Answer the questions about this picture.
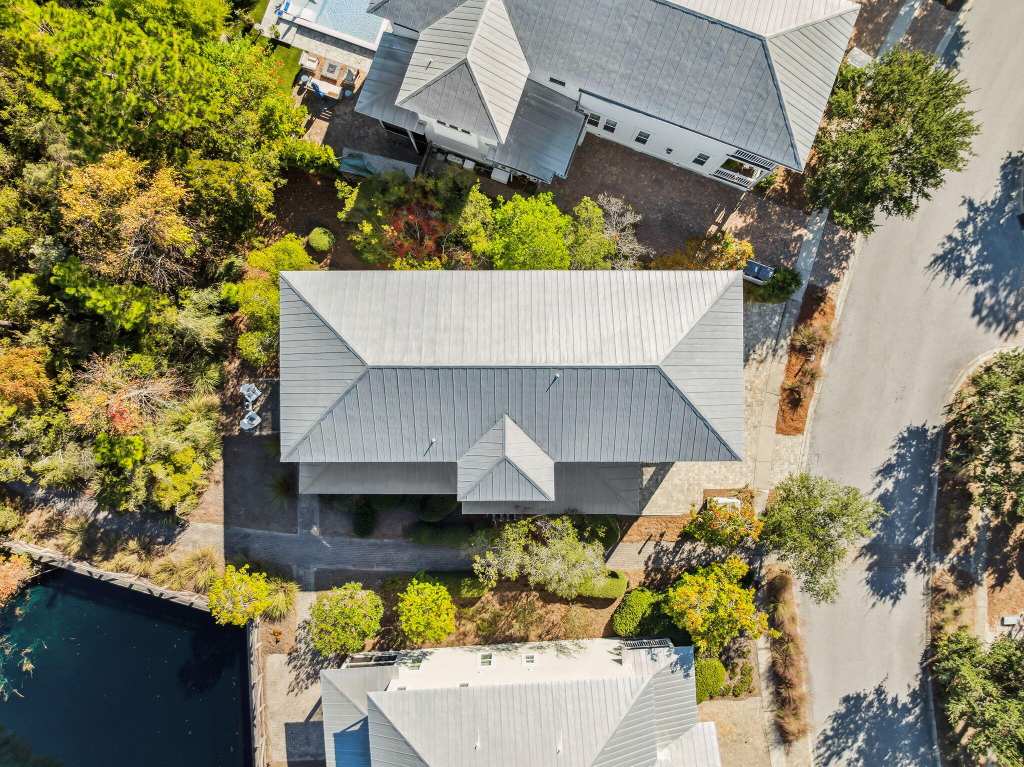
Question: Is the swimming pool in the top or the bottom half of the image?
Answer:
top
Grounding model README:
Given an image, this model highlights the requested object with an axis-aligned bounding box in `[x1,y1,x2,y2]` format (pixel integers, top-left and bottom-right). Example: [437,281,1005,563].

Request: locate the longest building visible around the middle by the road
[279,268,745,515]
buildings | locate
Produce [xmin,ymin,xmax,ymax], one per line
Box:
[353,0,866,191]
[279,268,745,515]
[319,637,720,767]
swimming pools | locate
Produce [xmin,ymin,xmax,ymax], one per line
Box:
[277,0,390,55]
